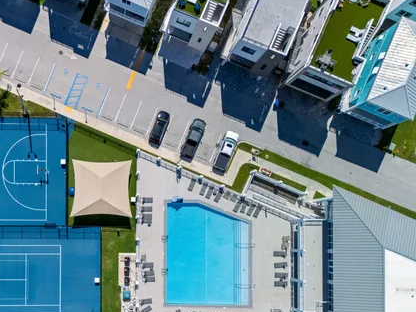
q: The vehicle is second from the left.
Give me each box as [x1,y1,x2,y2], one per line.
[180,121,205,161]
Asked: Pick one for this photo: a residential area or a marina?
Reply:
residential area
